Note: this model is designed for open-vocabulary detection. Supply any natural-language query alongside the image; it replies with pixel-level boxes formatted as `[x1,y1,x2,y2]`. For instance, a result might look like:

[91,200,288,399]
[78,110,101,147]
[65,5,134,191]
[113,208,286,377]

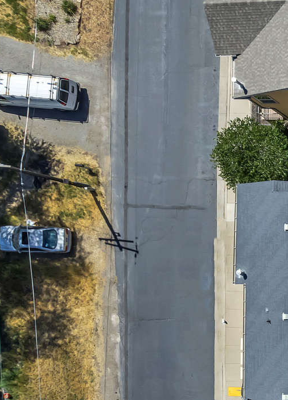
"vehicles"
[1,219,75,255]
[0,69,82,114]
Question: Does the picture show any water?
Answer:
No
